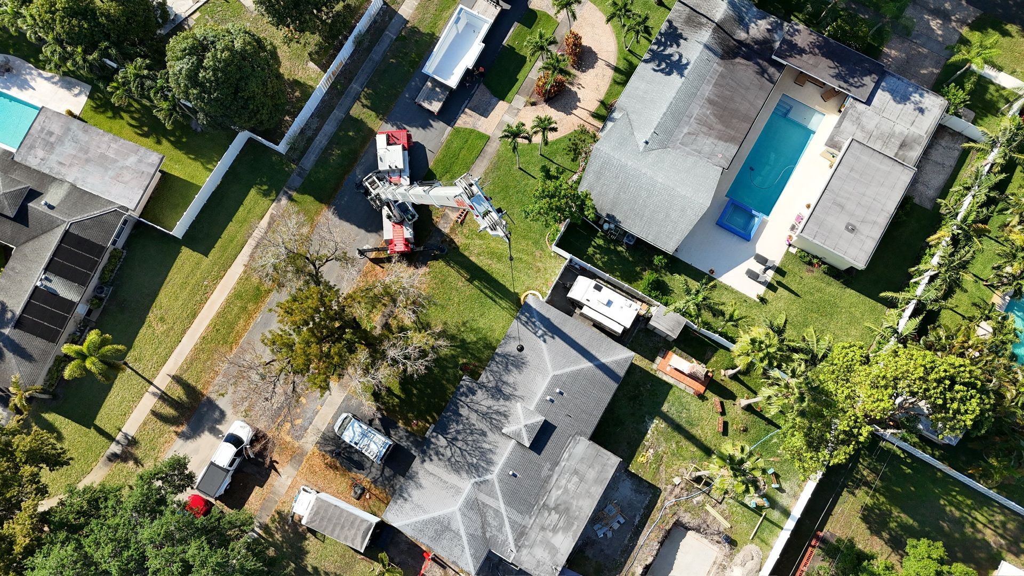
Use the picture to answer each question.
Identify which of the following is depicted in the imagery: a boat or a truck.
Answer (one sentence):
There is a truck in the scene.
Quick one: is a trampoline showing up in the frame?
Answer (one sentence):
No, the frame has no trampoline in it.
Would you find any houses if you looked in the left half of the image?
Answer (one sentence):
Yes, a house can be seen in the left half of the image.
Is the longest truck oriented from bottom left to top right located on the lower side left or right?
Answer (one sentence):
You can find the longest truck oriented from bottom left to top right located on the lower side on the left side of the picture.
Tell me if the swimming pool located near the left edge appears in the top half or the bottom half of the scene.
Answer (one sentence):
The swimming pool located near the left edge sits in the top half of the picture.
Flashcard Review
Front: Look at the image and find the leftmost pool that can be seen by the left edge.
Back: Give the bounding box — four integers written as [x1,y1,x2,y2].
[0,89,39,135]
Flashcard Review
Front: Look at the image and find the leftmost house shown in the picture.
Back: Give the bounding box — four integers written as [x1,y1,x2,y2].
[0,106,169,382]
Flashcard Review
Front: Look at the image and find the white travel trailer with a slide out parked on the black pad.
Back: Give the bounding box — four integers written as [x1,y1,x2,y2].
[560,276,640,338]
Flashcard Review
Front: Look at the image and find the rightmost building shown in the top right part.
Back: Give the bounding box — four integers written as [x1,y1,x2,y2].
[772,22,949,270]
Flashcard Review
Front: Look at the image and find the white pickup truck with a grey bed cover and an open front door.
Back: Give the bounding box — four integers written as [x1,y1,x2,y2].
[194,420,254,499]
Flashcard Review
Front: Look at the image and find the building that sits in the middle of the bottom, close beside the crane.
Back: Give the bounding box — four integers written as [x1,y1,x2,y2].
[381,293,635,576]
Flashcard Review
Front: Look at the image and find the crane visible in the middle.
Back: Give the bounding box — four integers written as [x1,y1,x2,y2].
[355,130,523,343]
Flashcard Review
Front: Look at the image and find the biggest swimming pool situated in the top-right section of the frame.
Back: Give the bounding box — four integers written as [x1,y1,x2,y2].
[726,93,825,216]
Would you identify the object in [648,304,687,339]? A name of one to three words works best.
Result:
shed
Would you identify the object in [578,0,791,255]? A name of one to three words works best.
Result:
house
